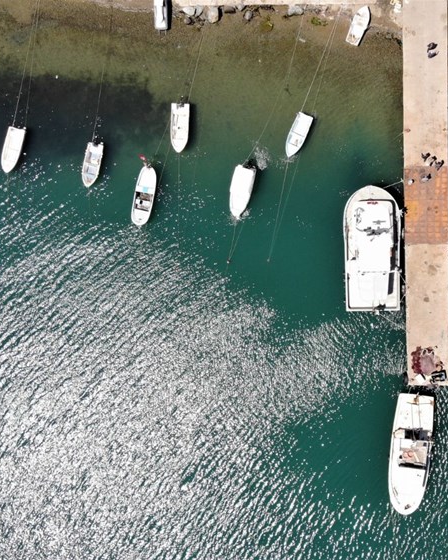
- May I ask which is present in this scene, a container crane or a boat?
boat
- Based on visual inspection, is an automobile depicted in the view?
No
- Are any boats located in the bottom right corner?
Yes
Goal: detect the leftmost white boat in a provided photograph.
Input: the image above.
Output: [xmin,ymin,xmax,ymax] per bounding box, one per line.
[1,126,25,173]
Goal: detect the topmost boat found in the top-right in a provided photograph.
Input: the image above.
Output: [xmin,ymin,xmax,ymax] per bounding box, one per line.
[346,5,370,47]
